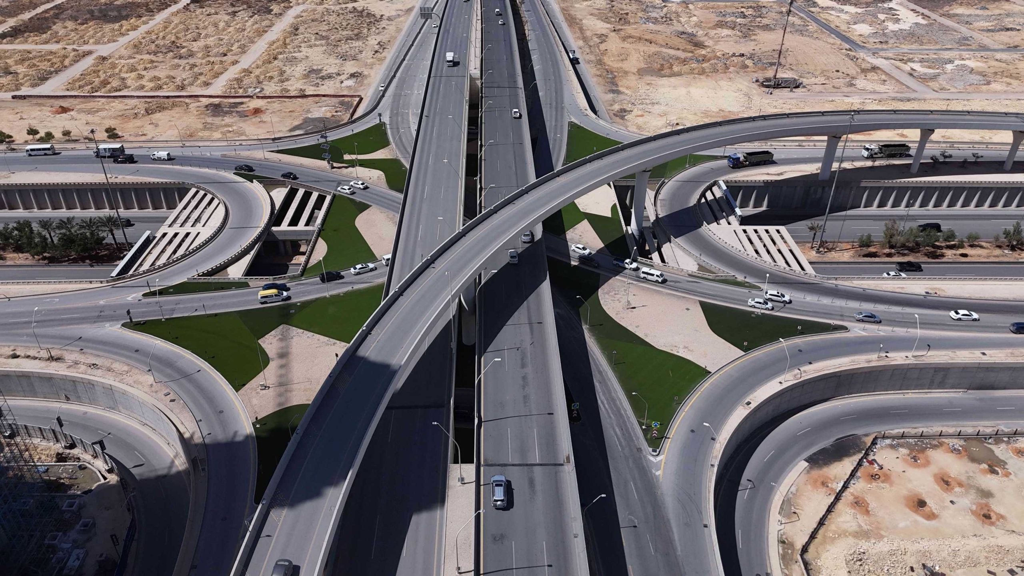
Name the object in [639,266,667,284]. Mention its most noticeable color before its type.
white vehicle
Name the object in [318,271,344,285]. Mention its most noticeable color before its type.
black car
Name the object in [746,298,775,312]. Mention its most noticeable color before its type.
white car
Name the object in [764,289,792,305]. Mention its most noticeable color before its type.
white car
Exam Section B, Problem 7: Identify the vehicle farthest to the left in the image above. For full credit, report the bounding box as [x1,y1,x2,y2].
[25,144,57,157]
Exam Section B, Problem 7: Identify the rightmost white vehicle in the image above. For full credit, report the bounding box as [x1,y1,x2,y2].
[948,309,981,322]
